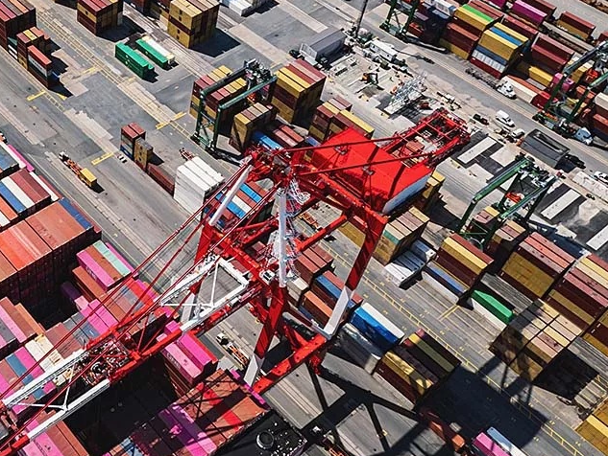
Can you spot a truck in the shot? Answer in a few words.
Yes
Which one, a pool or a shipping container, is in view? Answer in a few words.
shipping container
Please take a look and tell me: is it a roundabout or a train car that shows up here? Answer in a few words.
train car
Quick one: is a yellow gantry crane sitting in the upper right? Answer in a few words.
No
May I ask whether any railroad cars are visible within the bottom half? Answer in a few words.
No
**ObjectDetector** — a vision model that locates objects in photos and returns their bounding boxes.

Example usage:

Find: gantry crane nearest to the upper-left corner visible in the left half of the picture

[192,64,277,150]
